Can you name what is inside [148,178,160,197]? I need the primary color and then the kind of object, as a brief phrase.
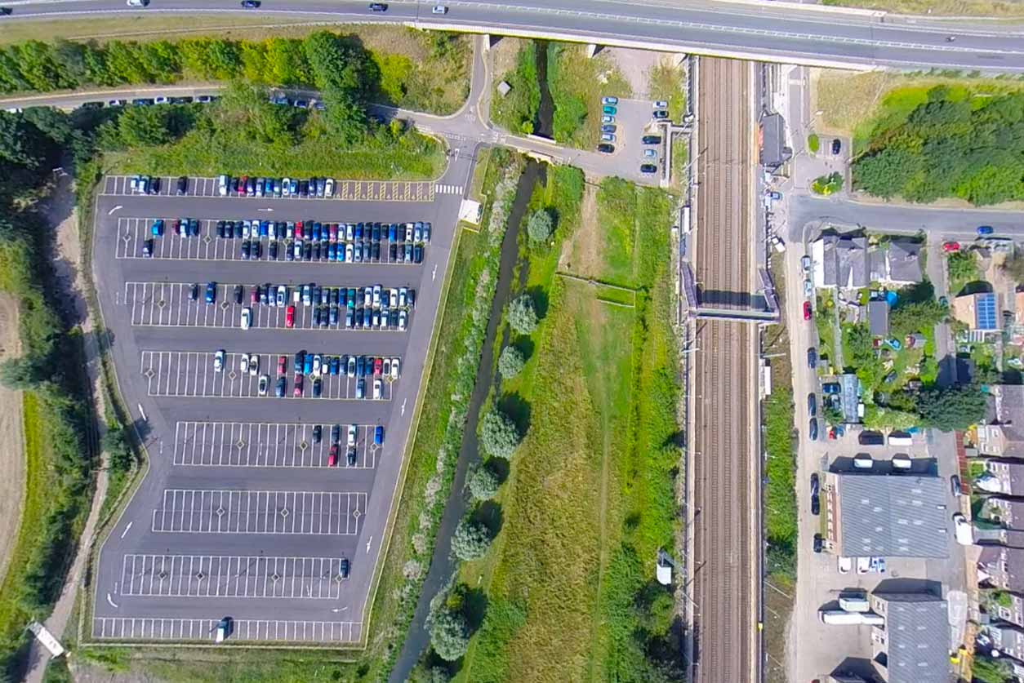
blue vehicle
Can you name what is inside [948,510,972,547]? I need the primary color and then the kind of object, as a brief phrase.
white truck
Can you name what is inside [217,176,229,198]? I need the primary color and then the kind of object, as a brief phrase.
white vehicle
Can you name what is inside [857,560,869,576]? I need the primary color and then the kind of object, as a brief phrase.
white vehicle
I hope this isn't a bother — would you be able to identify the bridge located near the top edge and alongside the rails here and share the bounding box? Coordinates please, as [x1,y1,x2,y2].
[413,0,884,71]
